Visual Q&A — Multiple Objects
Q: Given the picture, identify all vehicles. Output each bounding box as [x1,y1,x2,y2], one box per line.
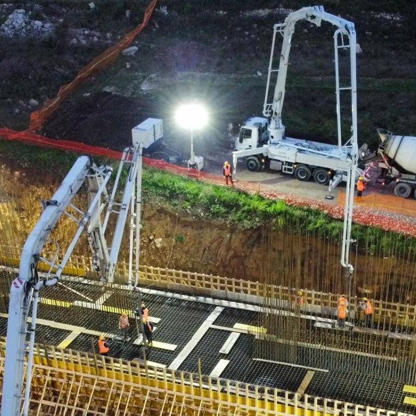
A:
[2,142,148,416]
[230,5,365,321]
[366,126,416,196]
